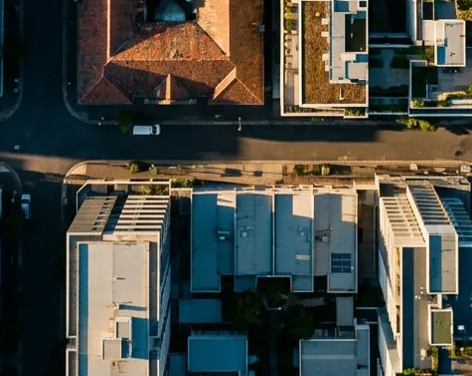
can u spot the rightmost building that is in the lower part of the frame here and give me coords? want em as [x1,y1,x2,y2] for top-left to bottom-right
[381,195,472,376]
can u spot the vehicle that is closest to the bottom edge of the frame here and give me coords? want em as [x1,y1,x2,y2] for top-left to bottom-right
[19,194,31,219]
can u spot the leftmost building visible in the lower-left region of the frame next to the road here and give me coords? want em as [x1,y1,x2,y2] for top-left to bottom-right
[64,195,173,376]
